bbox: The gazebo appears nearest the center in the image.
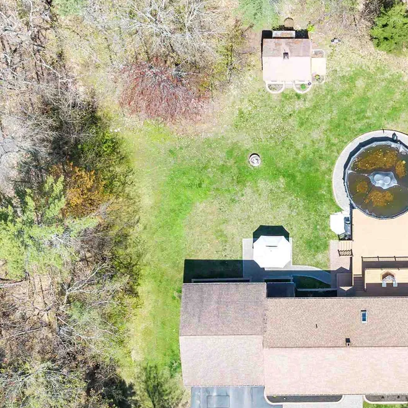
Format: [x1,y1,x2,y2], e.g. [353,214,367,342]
[253,236,292,267]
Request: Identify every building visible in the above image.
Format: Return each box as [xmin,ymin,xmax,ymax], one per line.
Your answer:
[262,31,310,86]
[179,281,408,396]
